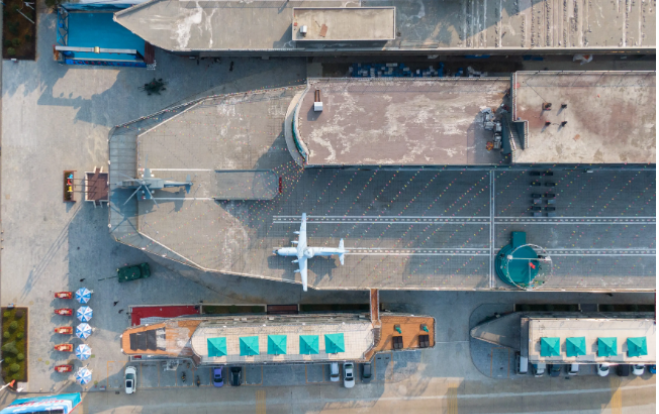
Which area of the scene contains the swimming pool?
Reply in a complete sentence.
You can find the swimming pool in the top left area of the picture.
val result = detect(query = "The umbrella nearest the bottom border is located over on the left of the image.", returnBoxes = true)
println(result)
[78,367,95,382]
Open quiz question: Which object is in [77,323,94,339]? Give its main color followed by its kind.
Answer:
white umbrella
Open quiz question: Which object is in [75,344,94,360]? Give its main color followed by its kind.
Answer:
white umbrella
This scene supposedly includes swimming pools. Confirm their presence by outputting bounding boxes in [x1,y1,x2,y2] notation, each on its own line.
[53,8,156,68]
